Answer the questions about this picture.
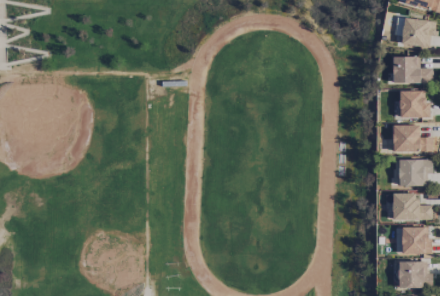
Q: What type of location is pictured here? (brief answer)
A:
sports ground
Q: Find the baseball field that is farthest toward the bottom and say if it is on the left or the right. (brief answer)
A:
left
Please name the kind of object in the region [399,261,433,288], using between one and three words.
house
